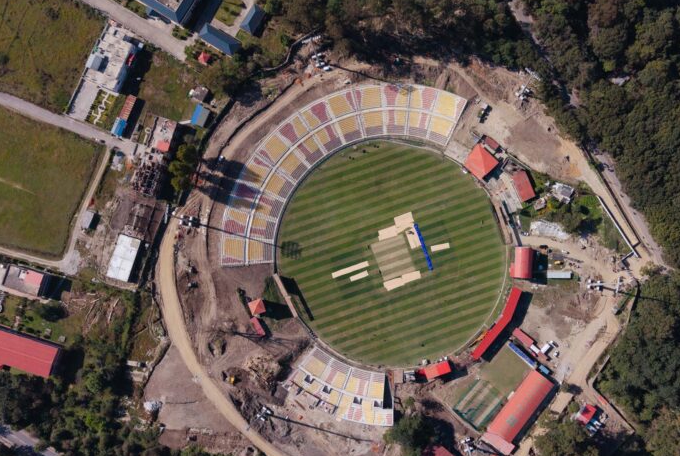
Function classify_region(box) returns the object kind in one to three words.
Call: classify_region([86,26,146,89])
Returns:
house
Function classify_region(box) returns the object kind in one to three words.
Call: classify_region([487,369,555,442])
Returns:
building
